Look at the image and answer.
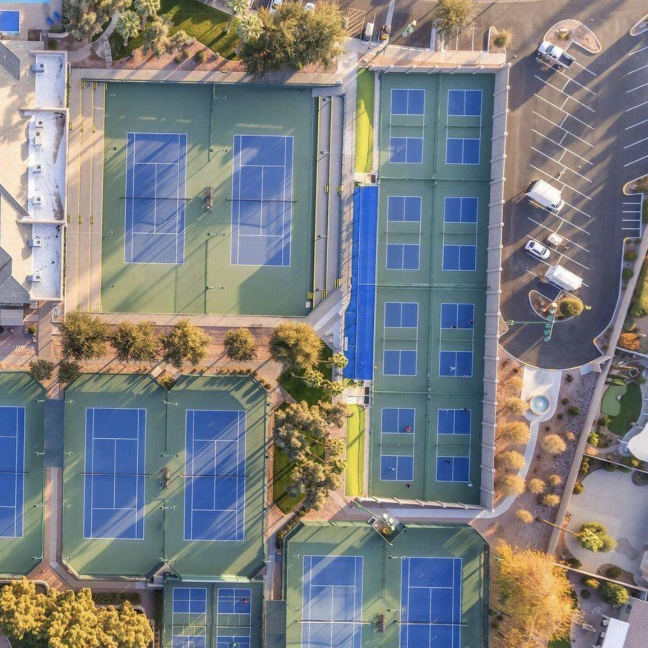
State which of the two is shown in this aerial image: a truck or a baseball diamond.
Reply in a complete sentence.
It is a truck that can be seen here.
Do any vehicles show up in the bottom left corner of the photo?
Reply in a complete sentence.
No, no vehicle appears in the bottom left corner of the photo.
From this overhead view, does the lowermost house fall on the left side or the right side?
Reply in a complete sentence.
The lowermost house is on the right side of the image.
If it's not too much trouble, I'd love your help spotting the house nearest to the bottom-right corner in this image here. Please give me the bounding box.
[615,597,648,648]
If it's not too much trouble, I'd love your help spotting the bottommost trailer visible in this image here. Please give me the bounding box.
[538,264,586,291]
